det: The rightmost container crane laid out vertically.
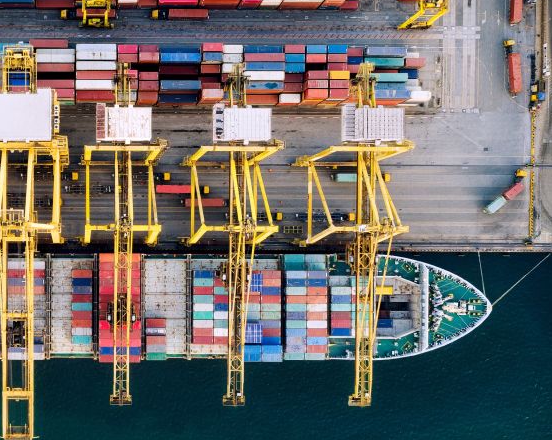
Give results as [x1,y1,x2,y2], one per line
[294,64,417,405]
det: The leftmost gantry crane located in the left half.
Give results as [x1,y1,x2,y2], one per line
[0,45,71,440]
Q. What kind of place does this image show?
port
